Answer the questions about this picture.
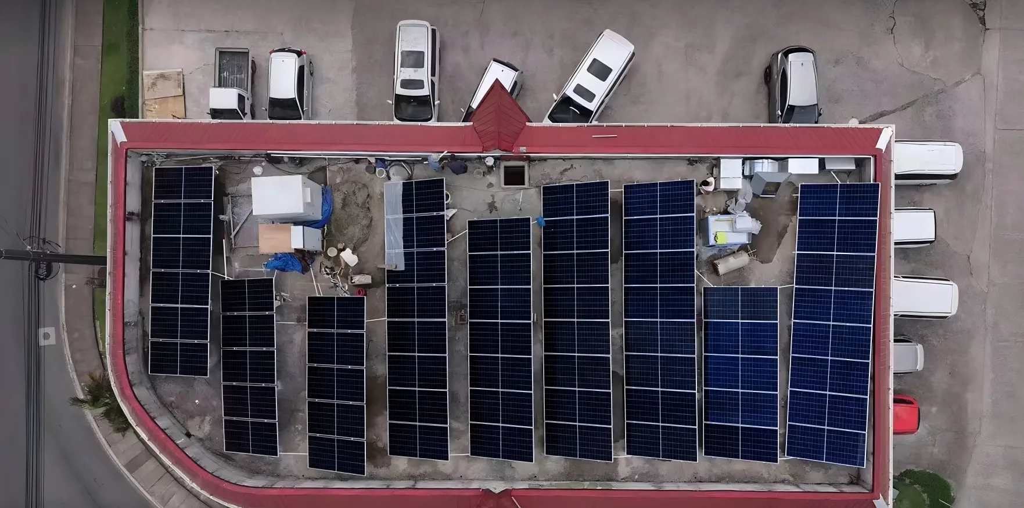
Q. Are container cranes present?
No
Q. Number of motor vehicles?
11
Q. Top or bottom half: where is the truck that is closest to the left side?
top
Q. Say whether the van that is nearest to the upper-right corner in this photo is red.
No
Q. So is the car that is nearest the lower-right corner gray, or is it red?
red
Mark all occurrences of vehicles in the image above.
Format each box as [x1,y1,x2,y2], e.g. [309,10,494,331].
[898,206,933,249]
[547,32,632,121]
[207,47,258,118]
[389,22,441,120]
[763,48,817,123]
[897,333,923,374]
[267,47,316,118]
[457,60,524,120]
[897,275,956,320]
[896,390,919,433]
[898,141,961,188]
